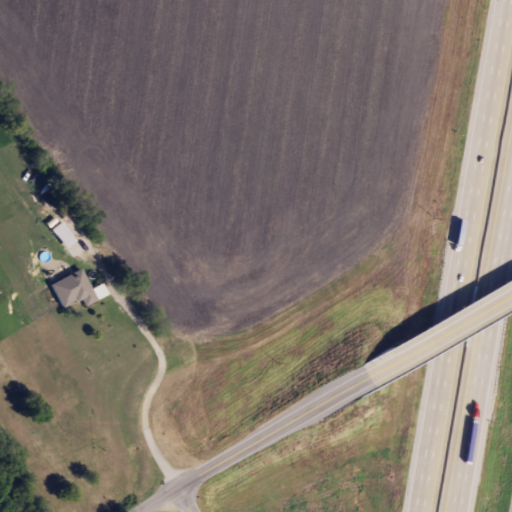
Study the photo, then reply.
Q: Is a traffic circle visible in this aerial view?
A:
No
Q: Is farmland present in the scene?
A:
Yes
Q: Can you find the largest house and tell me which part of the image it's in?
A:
left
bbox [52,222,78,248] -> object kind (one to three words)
barn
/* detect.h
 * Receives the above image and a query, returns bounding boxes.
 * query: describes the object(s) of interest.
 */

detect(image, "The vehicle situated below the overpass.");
[464,406,480,464]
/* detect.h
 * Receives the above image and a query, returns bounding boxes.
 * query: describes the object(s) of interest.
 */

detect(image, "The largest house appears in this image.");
[52,268,100,308]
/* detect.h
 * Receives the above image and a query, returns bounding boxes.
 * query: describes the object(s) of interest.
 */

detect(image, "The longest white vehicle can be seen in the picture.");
[454,219,468,252]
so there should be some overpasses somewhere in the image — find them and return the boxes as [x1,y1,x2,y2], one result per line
[356,281,512,392]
